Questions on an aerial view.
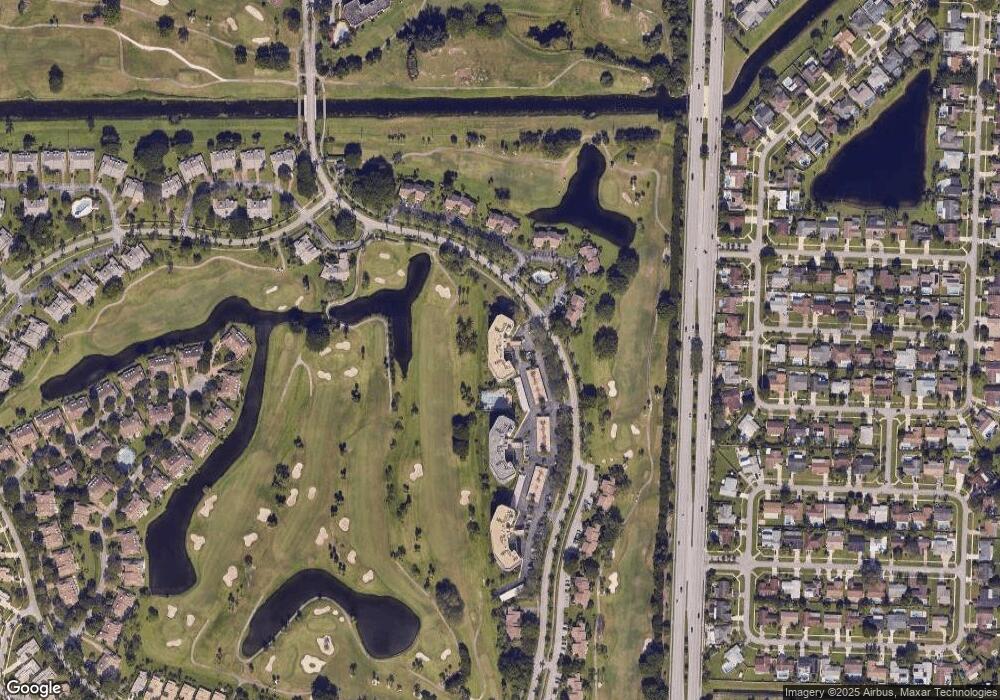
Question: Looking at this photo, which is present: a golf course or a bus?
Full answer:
It is a golf course that can be seen here.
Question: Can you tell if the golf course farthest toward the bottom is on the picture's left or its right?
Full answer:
You can find the golf course farthest toward the bottom on the left side of the picture.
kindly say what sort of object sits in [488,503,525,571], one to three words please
building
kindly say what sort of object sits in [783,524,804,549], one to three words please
house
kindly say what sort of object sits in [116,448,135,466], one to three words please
swimming pool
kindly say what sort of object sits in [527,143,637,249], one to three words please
pond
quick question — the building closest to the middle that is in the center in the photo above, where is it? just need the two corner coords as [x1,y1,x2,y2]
[485,312,522,381]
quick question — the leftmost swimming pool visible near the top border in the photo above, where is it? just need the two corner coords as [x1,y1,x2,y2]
[333,21,350,44]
